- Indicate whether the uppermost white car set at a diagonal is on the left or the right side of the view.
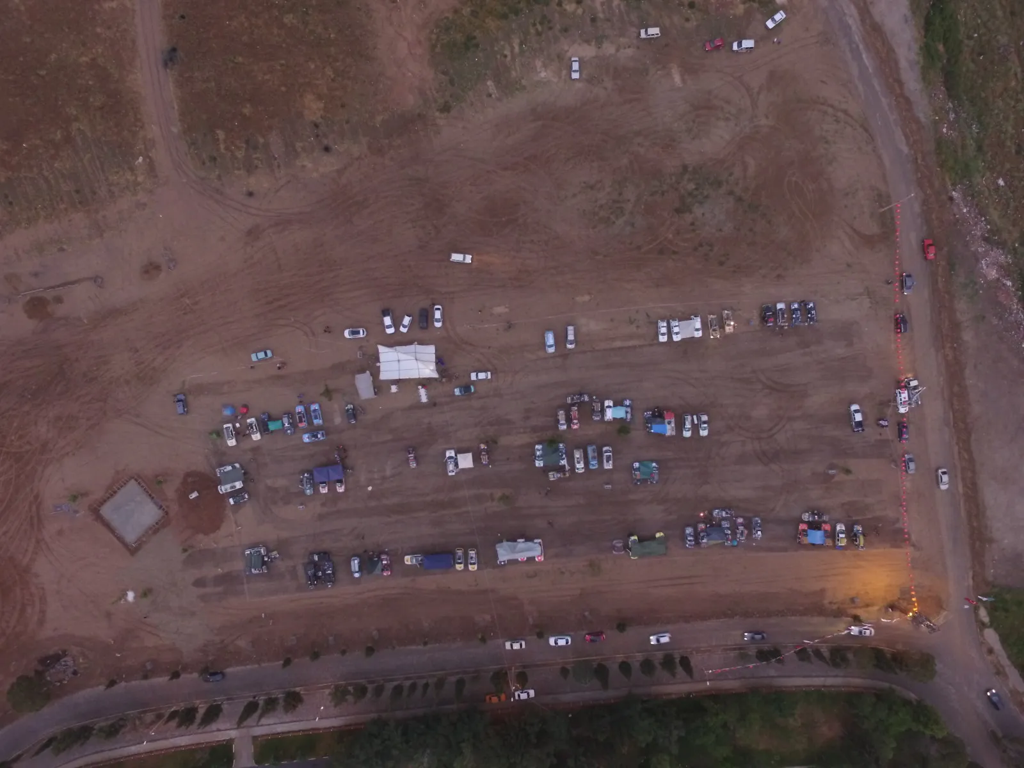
right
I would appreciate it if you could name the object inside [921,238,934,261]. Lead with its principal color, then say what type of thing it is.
red vehicle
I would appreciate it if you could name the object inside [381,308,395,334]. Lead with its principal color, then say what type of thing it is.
white vehicle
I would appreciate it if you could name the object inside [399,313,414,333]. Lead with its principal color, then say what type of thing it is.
white car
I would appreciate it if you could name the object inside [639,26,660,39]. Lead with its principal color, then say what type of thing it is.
white vehicle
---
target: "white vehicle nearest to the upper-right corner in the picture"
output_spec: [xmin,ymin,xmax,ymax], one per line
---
[764,9,786,31]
